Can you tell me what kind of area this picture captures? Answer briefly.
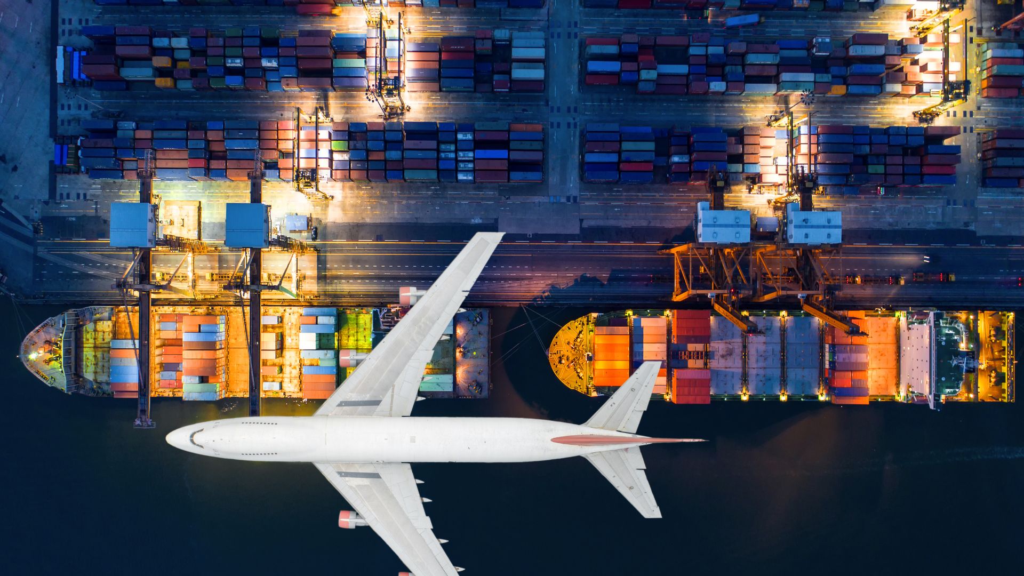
port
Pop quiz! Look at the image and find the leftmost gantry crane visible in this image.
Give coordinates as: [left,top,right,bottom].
[92,142,237,429]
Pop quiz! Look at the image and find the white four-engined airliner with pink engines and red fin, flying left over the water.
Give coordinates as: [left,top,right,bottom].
[167,232,706,576]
